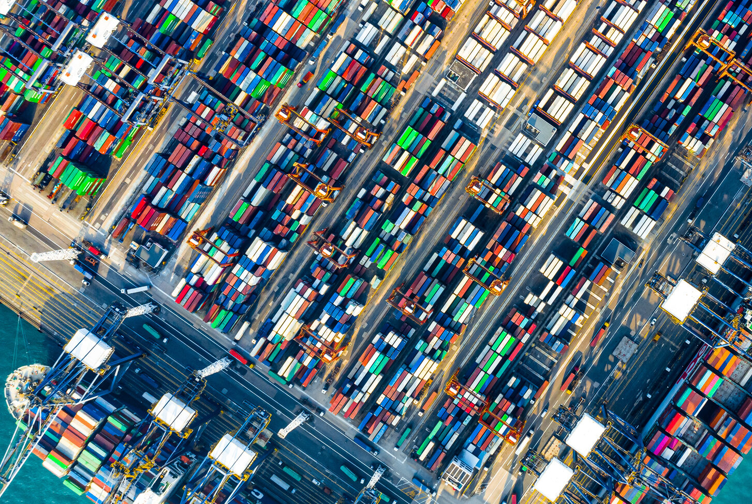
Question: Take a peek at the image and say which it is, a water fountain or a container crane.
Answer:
container crane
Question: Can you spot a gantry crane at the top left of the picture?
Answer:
No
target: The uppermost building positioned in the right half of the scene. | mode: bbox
[445,60,477,91]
